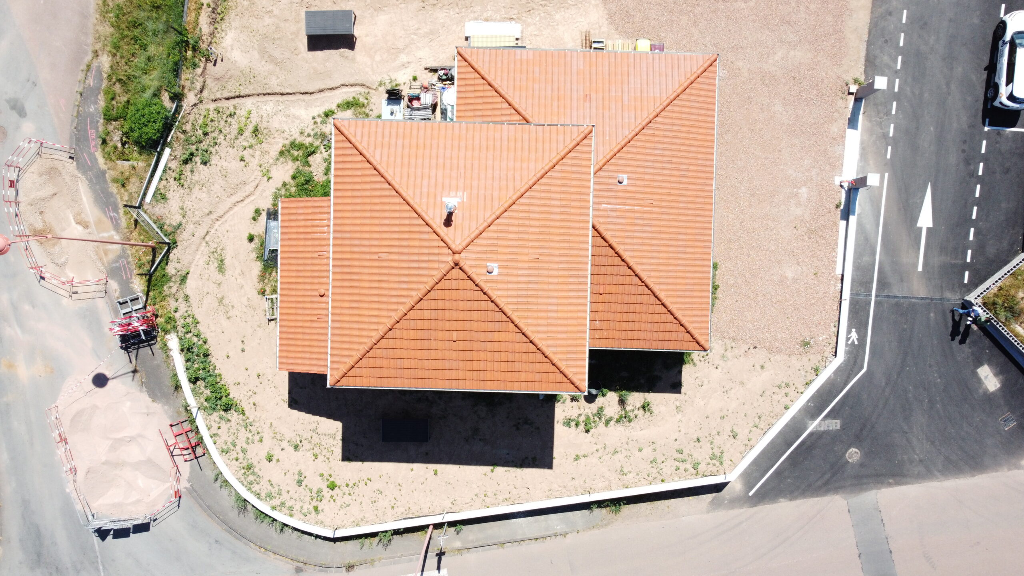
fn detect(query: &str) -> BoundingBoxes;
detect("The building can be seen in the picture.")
[275,46,721,394]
